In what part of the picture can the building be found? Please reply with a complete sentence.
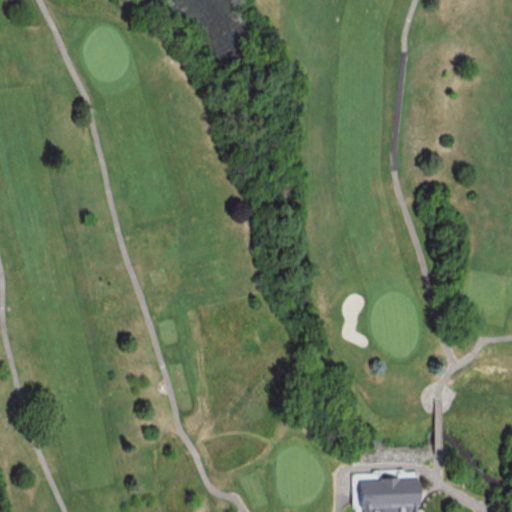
Look in the bottom right portion of the view to spot the building.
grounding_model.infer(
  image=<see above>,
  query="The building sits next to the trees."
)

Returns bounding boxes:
[351,468,421,512]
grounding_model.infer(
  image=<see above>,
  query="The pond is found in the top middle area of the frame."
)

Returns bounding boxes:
[174,0,238,58]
